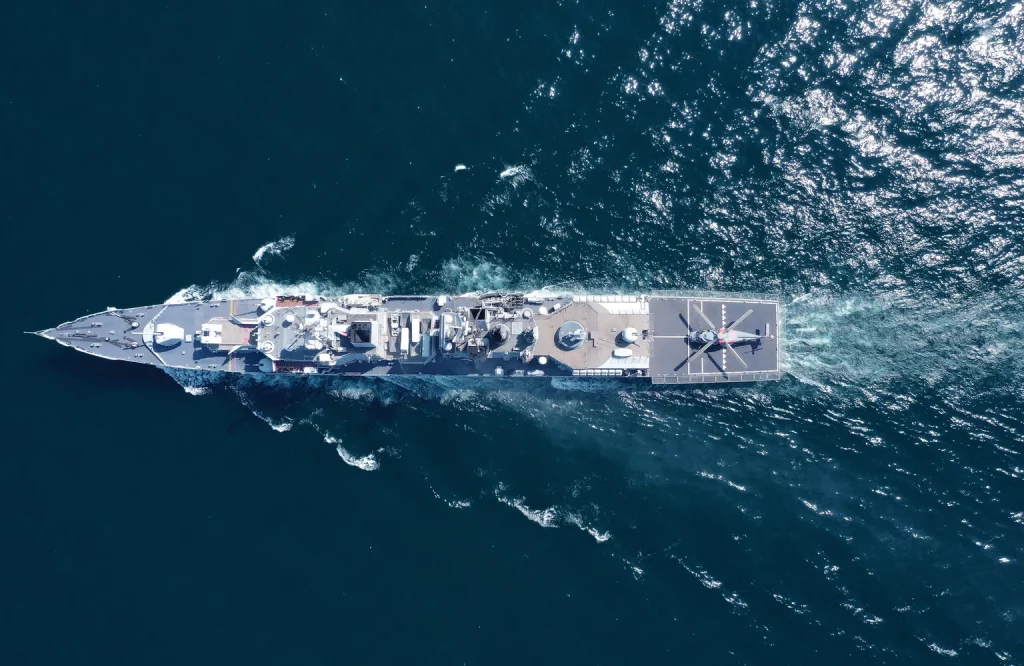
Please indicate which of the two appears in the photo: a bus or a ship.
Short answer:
ship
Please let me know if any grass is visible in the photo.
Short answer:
No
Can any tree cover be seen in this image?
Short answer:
No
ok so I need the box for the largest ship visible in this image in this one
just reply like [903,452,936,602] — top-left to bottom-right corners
[24,290,782,384]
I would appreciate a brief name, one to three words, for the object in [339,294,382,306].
boat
